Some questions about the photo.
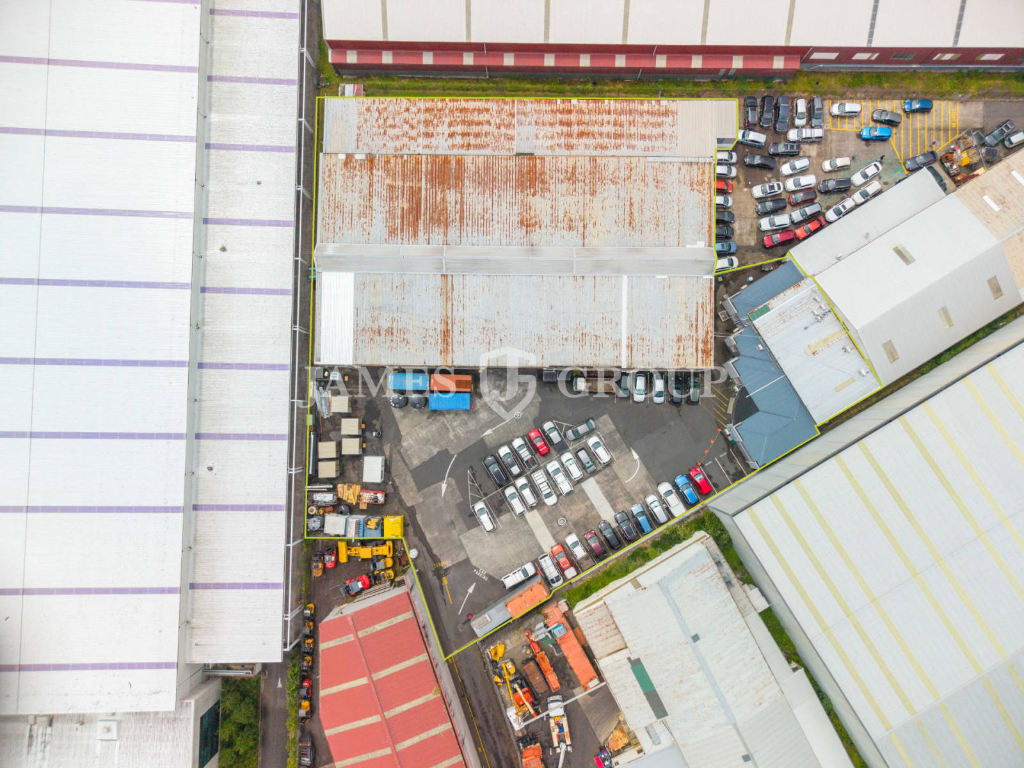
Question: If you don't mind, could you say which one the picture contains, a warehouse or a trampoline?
warehouse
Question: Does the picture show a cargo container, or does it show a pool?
cargo container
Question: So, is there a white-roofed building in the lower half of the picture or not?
Yes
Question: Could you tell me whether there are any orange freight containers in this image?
Yes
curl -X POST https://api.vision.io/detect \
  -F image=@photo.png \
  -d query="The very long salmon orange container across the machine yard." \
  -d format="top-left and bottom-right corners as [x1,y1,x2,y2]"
[541,595,600,688]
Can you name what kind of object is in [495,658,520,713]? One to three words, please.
crane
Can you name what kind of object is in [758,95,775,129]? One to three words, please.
car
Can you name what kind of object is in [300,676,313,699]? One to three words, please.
vehicle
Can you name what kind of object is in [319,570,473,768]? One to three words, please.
shed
